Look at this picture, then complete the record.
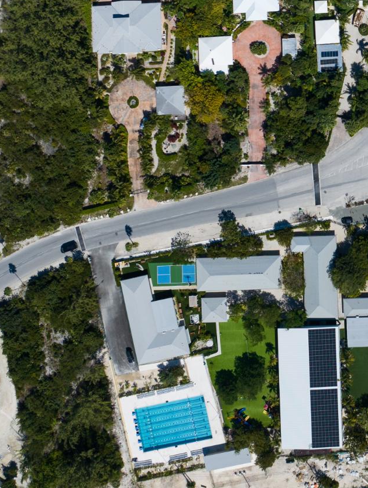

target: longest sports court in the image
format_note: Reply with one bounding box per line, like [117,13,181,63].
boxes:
[149,262,198,287]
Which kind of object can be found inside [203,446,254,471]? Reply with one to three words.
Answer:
shed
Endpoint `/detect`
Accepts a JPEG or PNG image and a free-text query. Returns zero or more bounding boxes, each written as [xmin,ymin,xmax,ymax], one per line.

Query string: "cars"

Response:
[62,241,77,251]
[126,347,134,361]
[341,217,353,223]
